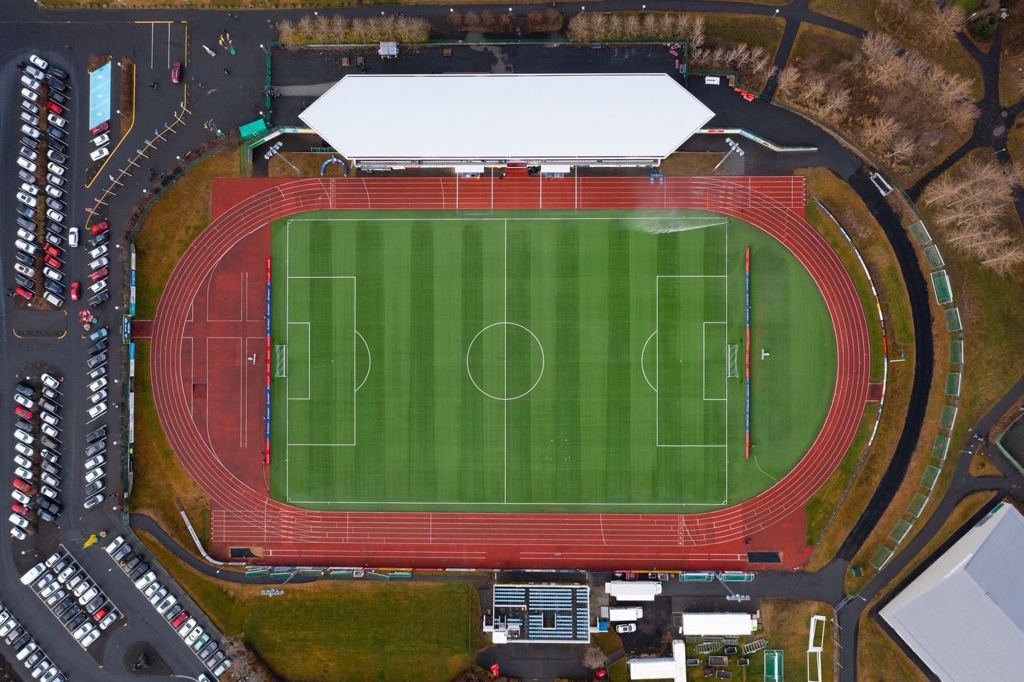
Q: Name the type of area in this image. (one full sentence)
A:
This image shows a sports ground.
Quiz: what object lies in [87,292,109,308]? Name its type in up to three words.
vehicle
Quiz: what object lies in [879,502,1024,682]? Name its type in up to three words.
building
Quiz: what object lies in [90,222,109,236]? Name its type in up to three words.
car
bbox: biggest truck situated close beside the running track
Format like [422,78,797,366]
[604,577,660,601]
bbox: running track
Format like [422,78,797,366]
[131,175,882,571]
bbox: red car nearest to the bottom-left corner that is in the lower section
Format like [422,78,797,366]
[93,607,108,622]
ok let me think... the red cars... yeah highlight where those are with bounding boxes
[11,502,28,514]
[93,607,108,622]
[47,101,65,114]
[16,286,34,299]
[90,222,109,236]
[44,254,64,269]
[171,612,188,628]
[90,267,109,281]
[91,122,109,135]
[70,281,81,301]
[12,478,30,492]
[44,243,62,257]
[171,62,182,83]
[15,405,33,419]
